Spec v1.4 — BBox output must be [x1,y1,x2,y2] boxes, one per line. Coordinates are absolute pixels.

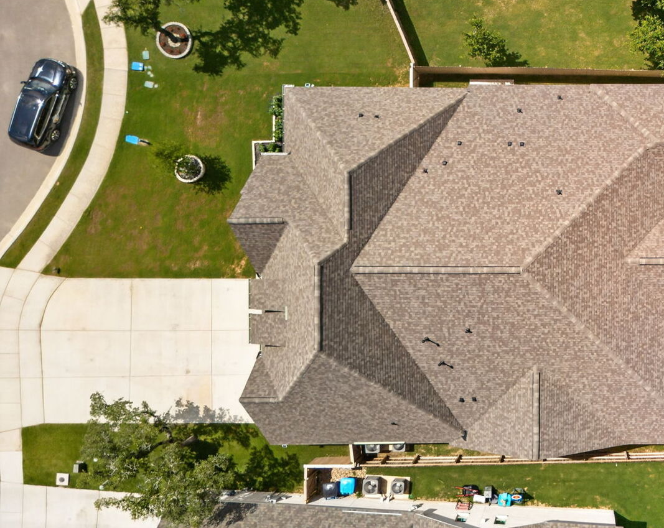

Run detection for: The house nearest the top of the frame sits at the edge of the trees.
[226,82,664,460]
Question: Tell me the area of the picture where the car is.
top left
